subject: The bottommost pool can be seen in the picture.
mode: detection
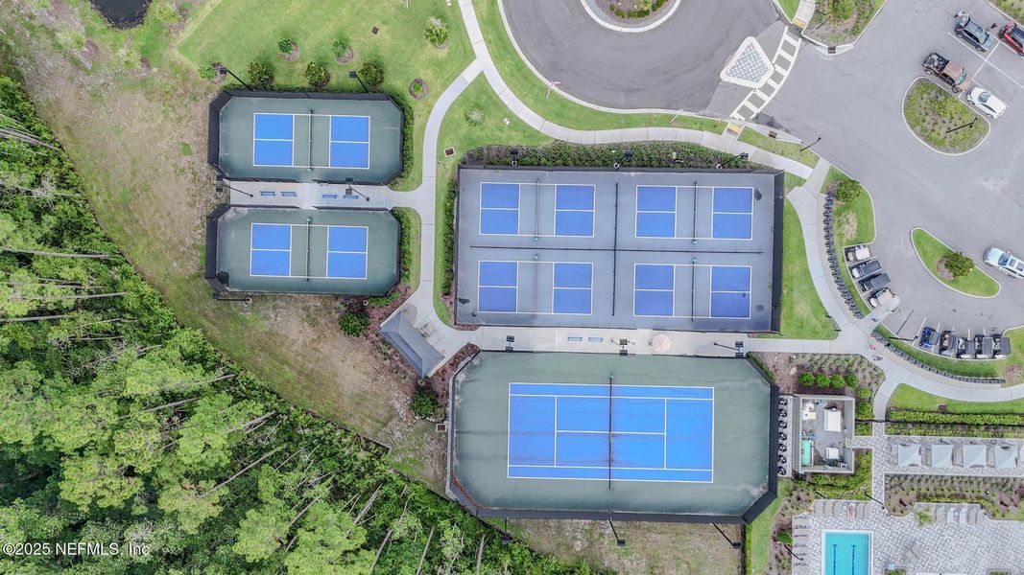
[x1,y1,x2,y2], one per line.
[821,530,874,575]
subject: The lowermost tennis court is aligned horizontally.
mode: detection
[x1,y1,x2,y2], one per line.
[452,351,770,515]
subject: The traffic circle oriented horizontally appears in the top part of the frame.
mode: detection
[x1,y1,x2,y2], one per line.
[582,0,680,32]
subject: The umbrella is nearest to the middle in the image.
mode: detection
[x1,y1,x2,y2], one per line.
[652,333,671,353]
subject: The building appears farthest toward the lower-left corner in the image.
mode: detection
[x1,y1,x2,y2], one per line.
[379,311,445,379]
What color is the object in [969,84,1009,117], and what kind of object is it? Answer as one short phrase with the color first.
white car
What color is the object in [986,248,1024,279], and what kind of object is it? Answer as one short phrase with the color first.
white car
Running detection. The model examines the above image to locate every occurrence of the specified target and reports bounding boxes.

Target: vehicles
[958,337,979,358]
[957,8,997,48]
[868,287,898,306]
[862,272,893,290]
[974,336,997,357]
[921,327,946,349]
[845,247,873,261]
[994,335,1014,356]
[986,248,1024,279]
[852,259,883,276]
[927,49,973,91]
[969,84,1009,117]
[939,332,961,354]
